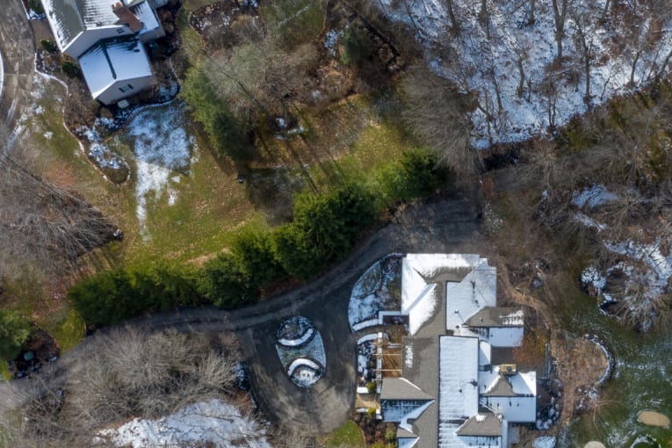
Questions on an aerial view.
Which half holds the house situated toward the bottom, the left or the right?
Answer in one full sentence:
The house situated toward the bottom sits on the right side.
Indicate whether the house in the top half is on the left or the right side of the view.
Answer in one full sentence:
The house in the top half sits on the left side.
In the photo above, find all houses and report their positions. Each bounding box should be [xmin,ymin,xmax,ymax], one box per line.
[380,254,536,448]
[40,0,167,101]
